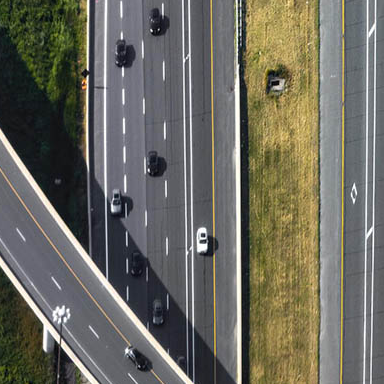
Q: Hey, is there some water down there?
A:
No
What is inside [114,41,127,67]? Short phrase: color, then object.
black vehicle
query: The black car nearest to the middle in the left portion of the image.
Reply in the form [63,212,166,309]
[146,152,159,176]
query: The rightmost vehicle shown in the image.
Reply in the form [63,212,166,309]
[195,228,209,254]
